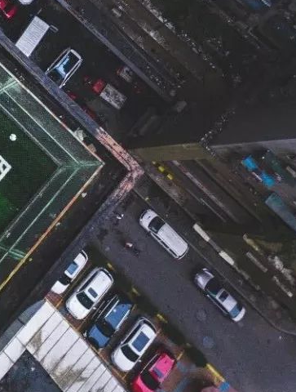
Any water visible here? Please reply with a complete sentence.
No, there is no water in the image.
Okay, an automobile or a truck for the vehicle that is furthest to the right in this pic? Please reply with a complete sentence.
I'd say the vehicle that is furthest to the right is an automobile.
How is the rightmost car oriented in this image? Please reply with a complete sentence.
The rightmost car is oriented diagonally.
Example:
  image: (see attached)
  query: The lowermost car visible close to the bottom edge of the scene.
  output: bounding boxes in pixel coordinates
[133,346,177,392]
